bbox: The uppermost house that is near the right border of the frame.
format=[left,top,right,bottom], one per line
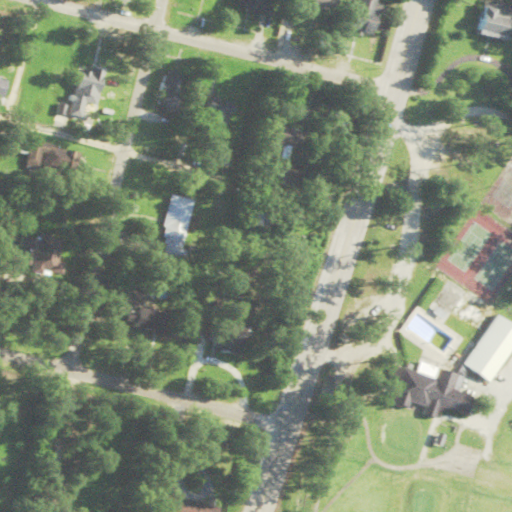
[476,6,512,38]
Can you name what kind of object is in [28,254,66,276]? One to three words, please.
house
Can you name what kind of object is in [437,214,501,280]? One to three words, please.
tennis court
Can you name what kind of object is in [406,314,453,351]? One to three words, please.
swimming pool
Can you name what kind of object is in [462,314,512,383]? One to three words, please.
barn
